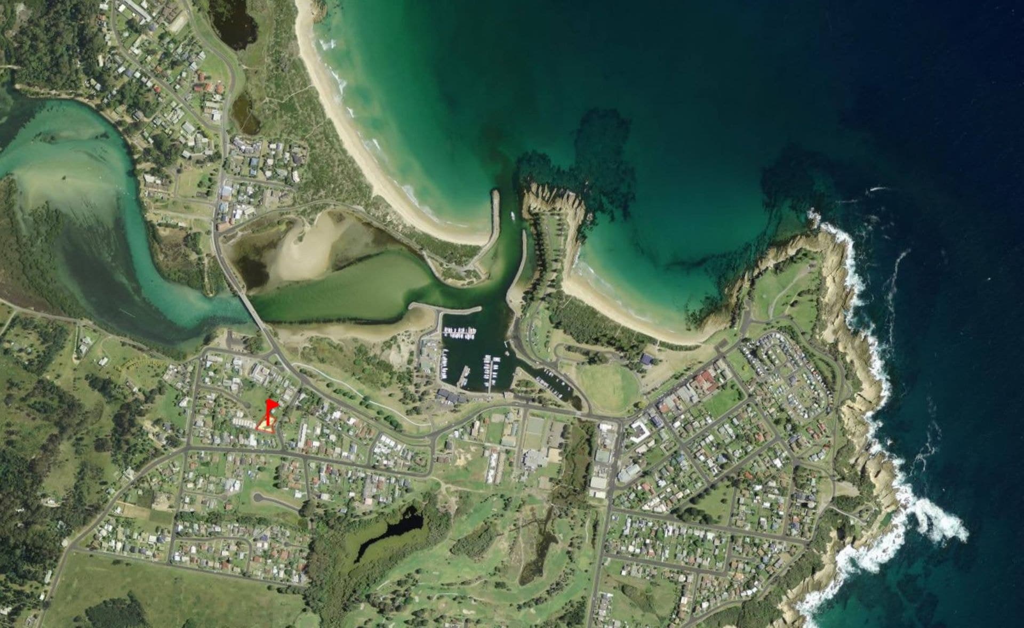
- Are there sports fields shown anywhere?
Yes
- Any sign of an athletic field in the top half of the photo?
No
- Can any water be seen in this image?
Yes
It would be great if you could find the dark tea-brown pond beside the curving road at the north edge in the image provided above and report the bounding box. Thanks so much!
[205,0,259,51]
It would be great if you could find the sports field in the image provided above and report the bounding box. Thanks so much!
[576,363,641,415]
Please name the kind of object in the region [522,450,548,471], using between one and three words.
building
